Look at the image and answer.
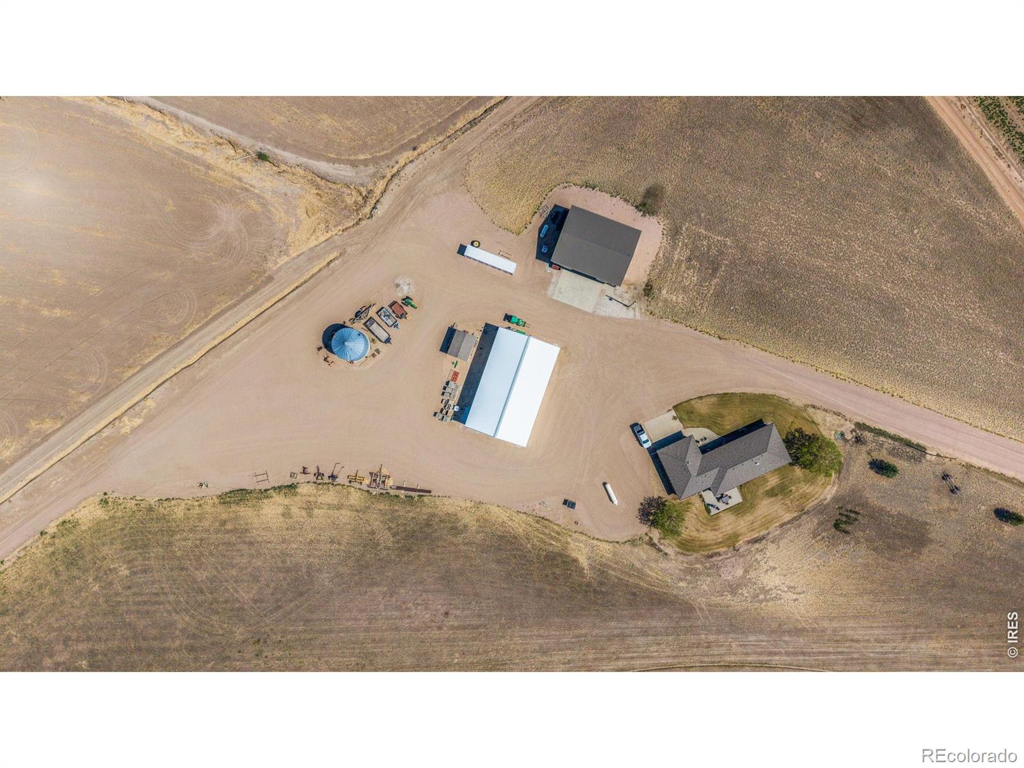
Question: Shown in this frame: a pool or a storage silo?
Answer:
storage silo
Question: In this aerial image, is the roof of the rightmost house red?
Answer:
No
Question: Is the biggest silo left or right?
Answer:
left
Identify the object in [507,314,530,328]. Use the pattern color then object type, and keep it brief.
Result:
green work vehicle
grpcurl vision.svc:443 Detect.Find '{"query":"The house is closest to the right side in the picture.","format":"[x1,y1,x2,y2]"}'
[657,423,791,501]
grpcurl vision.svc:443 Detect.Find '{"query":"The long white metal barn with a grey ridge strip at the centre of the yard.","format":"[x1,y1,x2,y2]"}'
[465,327,560,446]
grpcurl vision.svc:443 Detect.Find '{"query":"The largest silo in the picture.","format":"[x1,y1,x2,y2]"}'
[331,327,371,363]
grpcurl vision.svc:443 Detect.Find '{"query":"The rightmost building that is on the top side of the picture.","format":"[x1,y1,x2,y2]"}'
[551,205,641,289]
